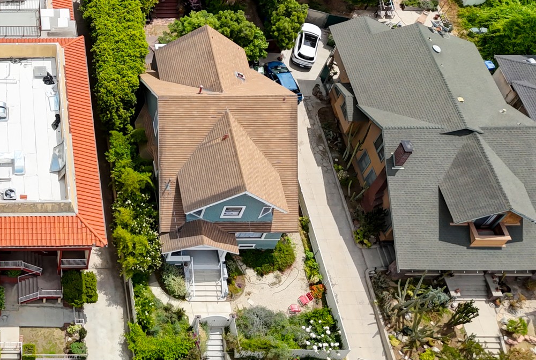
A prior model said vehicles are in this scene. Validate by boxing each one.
[291,25,323,74]
[258,60,310,108]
